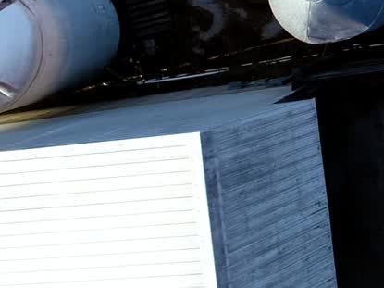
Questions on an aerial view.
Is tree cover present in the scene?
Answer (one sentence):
No, there's no tree cover in this view.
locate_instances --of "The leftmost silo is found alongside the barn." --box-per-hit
[0,0,116,113]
